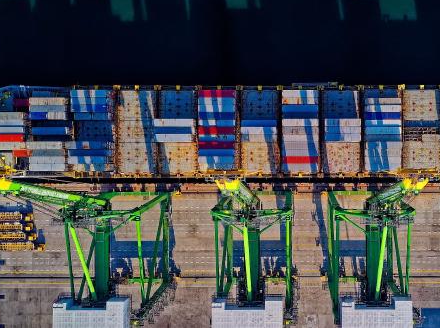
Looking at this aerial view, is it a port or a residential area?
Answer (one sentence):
This image shows a port.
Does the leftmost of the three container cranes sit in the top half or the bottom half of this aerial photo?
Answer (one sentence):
It is in the bottom half that the leftmost of the three container cranes appears.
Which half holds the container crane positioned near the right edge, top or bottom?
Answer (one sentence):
You can find the container crane positioned near the right edge in the bottom half.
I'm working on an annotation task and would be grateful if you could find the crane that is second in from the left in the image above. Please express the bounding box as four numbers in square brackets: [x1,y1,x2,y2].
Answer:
[196,166,302,328]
